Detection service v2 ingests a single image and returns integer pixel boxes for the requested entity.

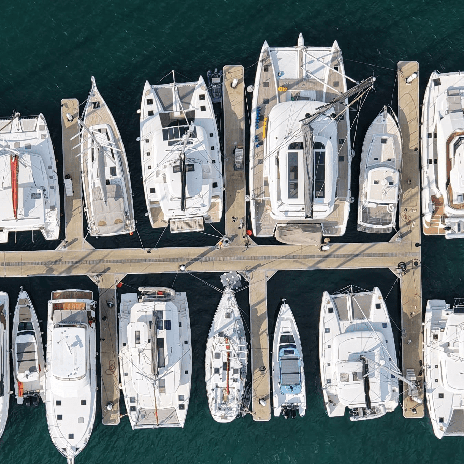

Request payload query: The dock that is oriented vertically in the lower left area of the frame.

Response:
[87,274,126,425]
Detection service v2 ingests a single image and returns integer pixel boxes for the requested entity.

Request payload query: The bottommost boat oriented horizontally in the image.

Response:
[347,405,386,420]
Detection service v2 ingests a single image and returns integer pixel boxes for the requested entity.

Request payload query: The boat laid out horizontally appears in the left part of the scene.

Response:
[138,287,174,301]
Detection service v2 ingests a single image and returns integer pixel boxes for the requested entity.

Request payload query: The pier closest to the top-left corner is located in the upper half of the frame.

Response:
[55,98,95,250]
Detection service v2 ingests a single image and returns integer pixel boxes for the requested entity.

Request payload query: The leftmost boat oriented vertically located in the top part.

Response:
[0,110,60,243]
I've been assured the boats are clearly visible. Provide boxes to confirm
[47,290,96,464]
[273,297,305,418]
[347,405,386,420]
[138,287,174,301]
[316,285,415,417]
[65,76,135,236]
[0,110,60,243]
[422,297,464,438]
[12,286,46,406]
[357,106,405,233]
[239,382,253,417]
[120,292,191,428]
[206,282,253,424]
[0,291,9,432]
[208,72,224,101]
[249,34,378,236]
[140,70,222,233]
[442,217,464,239]
[418,69,464,235]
